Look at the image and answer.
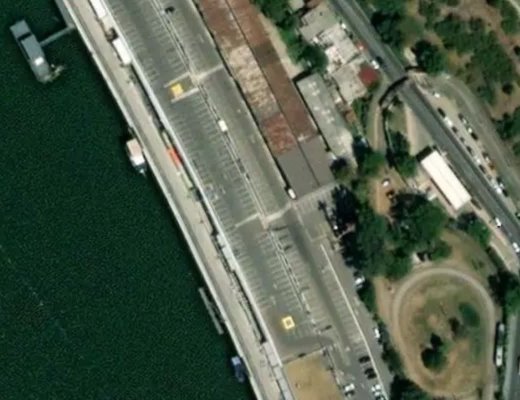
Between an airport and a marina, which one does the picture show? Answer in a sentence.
The area seen from above is a marina.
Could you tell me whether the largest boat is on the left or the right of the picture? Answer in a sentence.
The largest boat appears in the left half of the scene.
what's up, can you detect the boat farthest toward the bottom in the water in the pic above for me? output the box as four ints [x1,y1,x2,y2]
[231,355,244,382]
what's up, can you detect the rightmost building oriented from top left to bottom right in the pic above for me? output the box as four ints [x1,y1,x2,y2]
[421,151,472,209]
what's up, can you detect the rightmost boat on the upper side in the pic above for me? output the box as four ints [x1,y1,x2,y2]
[124,138,146,173]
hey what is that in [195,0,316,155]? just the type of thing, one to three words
warehouse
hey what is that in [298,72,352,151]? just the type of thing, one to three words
building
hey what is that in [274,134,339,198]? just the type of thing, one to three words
building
